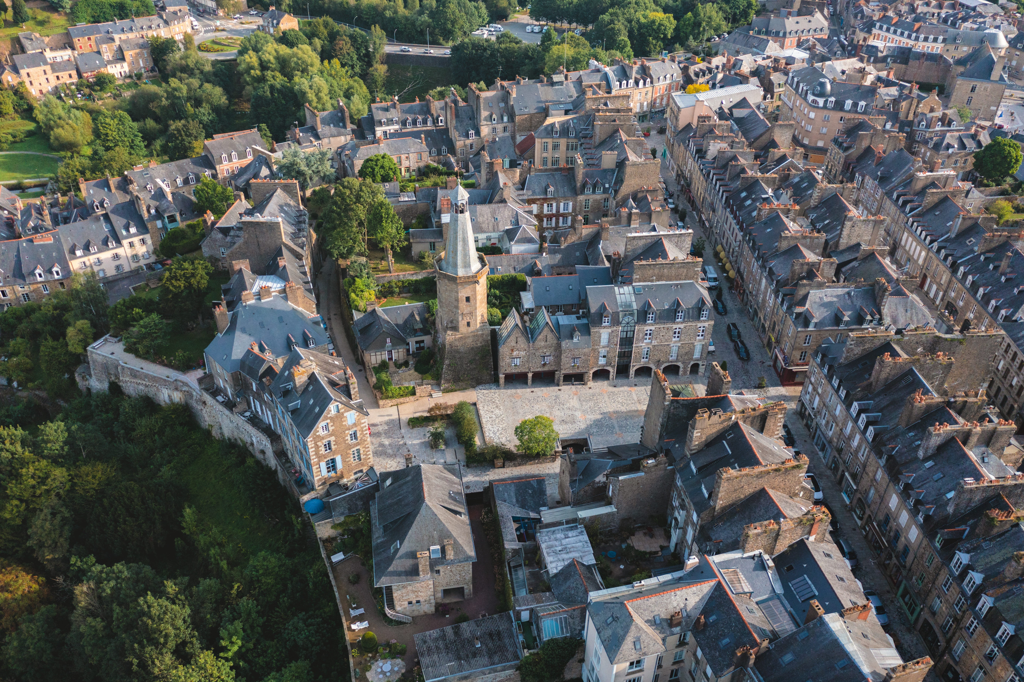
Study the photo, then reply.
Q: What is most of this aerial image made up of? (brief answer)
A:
buildings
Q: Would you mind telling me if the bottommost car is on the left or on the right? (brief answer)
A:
right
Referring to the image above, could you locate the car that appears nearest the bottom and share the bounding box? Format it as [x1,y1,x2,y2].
[863,588,895,622]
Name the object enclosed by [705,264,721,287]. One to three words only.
vehicle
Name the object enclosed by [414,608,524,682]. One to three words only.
shed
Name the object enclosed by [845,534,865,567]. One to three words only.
car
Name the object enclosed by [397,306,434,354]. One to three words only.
house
